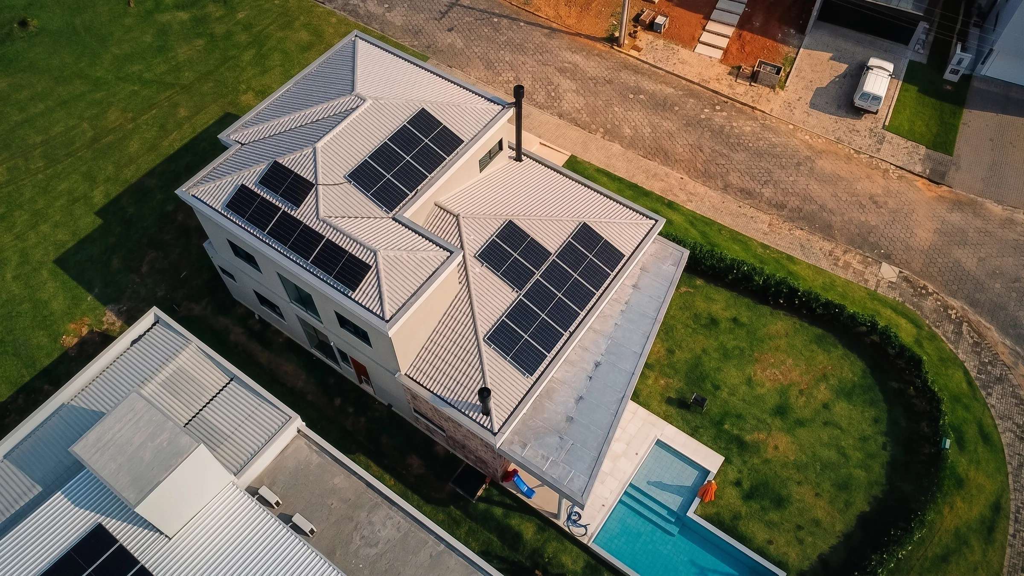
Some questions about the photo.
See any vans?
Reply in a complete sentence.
Yes, the image includes a van.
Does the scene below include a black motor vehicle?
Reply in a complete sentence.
No, this view has no black motor vehicle in it.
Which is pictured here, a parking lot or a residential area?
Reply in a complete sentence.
This image shows a residential area.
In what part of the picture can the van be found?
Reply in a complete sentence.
You can find the van in the top right area of the picture.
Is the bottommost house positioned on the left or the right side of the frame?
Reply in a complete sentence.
You can find the bottommost house on the left side of the picture.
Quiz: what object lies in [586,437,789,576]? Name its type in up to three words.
swimming pool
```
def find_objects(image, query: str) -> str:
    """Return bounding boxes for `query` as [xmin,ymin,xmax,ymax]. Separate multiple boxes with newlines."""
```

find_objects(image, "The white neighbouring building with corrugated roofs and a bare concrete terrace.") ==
[0,305,507,576]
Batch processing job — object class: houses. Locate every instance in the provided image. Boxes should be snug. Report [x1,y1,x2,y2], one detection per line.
[174,29,690,522]
[974,0,1024,87]
[0,305,507,576]
[801,0,943,48]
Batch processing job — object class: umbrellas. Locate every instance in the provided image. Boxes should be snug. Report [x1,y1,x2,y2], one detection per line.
[695,476,720,504]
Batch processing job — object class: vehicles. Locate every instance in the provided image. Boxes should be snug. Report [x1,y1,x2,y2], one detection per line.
[850,59,900,118]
